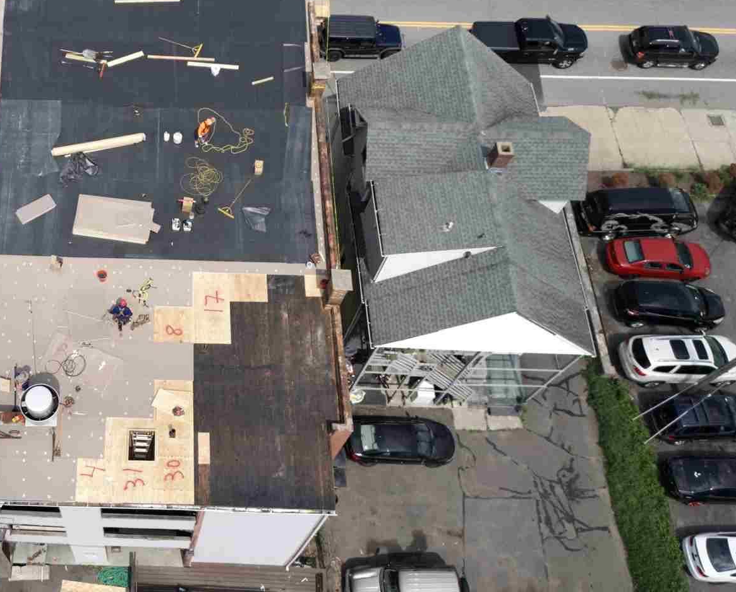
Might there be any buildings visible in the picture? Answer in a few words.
Yes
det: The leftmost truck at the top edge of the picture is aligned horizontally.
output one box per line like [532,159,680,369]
[471,15,588,67]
